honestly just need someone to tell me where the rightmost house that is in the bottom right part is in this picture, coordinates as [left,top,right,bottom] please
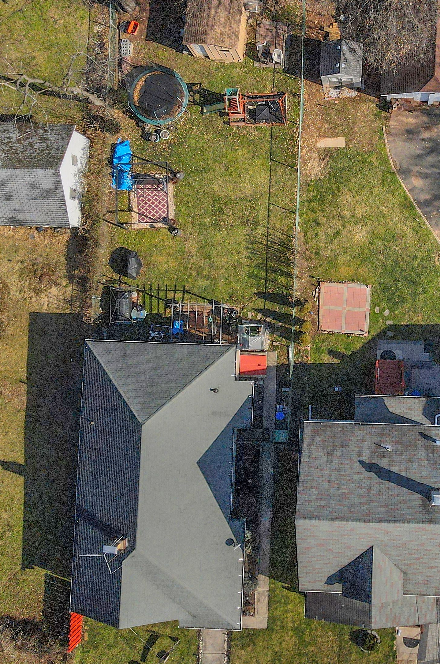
[296,394,440,628]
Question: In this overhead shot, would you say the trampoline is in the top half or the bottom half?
top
